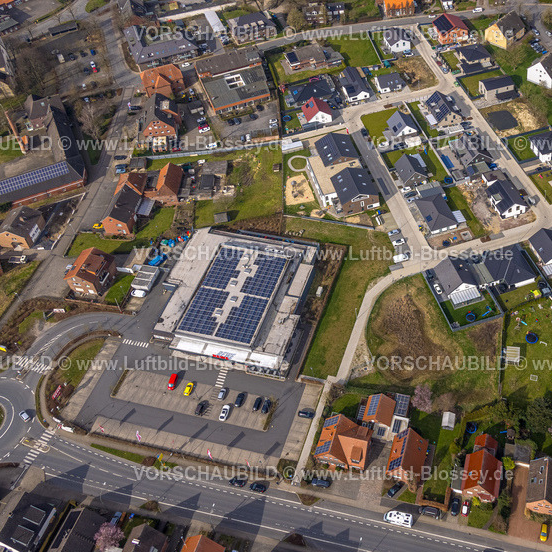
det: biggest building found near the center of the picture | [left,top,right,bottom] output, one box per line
[152,226,319,370]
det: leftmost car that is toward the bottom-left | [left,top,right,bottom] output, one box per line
[18,409,31,423]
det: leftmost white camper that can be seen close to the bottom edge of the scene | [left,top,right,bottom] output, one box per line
[383,507,413,528]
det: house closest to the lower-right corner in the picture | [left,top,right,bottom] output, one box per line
[527,458,552,518]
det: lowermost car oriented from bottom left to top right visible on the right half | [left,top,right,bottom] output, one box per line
[388,482,403,498]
